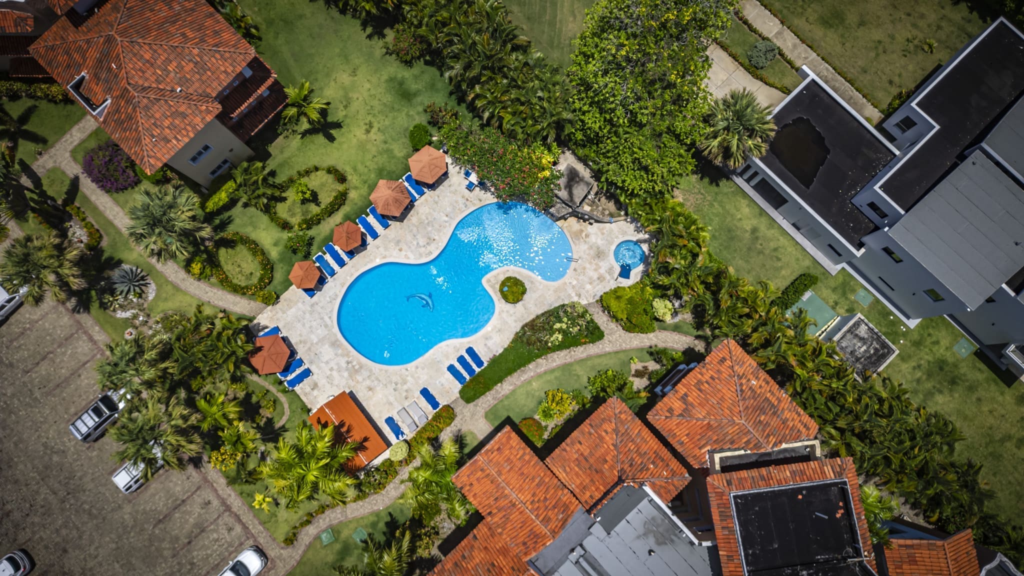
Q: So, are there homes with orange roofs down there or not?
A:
Yes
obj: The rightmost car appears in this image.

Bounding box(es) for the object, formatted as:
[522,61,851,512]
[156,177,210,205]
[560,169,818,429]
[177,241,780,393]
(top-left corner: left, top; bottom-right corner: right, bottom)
[215,552,260,576]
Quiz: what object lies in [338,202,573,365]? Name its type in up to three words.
swimming pool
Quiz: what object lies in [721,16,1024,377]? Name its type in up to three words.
house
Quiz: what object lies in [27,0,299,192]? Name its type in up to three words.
house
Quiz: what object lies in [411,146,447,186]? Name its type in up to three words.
umbrella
